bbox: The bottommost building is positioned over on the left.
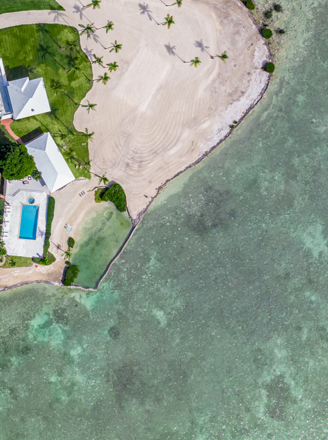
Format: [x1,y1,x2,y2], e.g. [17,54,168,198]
[27,132,75,192]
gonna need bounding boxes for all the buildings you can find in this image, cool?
[6,77,50,120]
[27,132,75,192]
